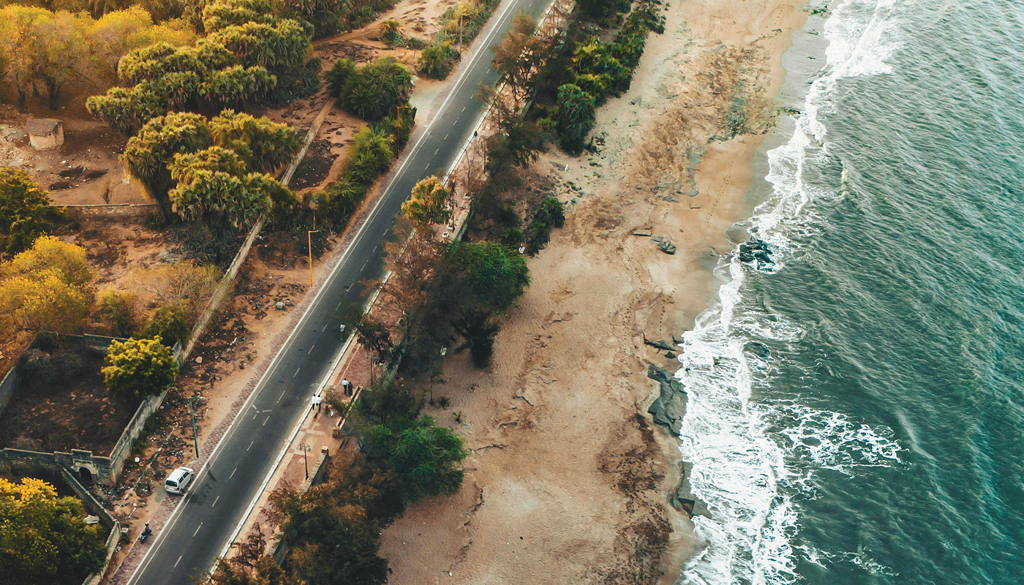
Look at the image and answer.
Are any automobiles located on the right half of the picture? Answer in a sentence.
No, I see no automobile on the right half of the picture.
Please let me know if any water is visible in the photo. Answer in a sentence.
Yes, there's water in this view.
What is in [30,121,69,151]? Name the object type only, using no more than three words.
shed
